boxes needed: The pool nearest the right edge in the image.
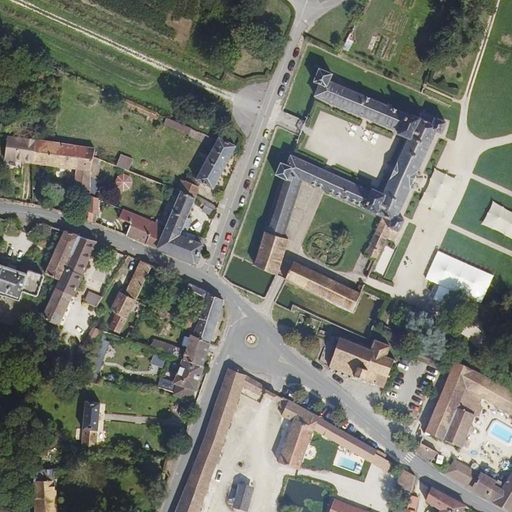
[488,422,512,446]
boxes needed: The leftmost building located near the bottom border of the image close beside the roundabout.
[176,368,264,512]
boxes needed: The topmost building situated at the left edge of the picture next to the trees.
[4,136,102,194]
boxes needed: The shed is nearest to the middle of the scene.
[254,232,288,275]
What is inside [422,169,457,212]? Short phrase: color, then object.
white tent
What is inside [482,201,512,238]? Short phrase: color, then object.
white tent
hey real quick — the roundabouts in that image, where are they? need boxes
[229,317,274,362]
